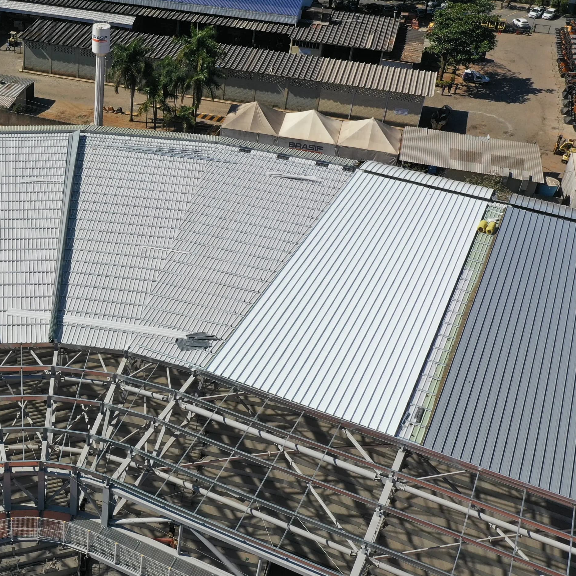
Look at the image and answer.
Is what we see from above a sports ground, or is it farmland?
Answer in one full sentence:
The picture captures a sports ground.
